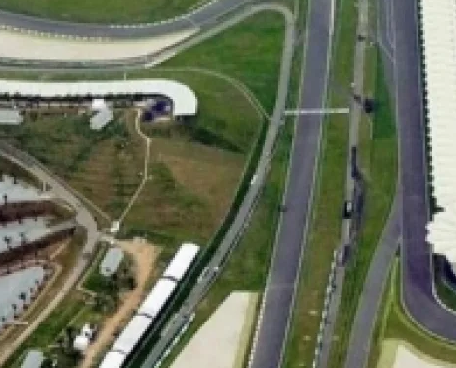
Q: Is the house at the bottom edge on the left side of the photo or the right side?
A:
left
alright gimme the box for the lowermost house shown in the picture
[20,348,43,368]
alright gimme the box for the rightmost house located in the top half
[90,105,112,131]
